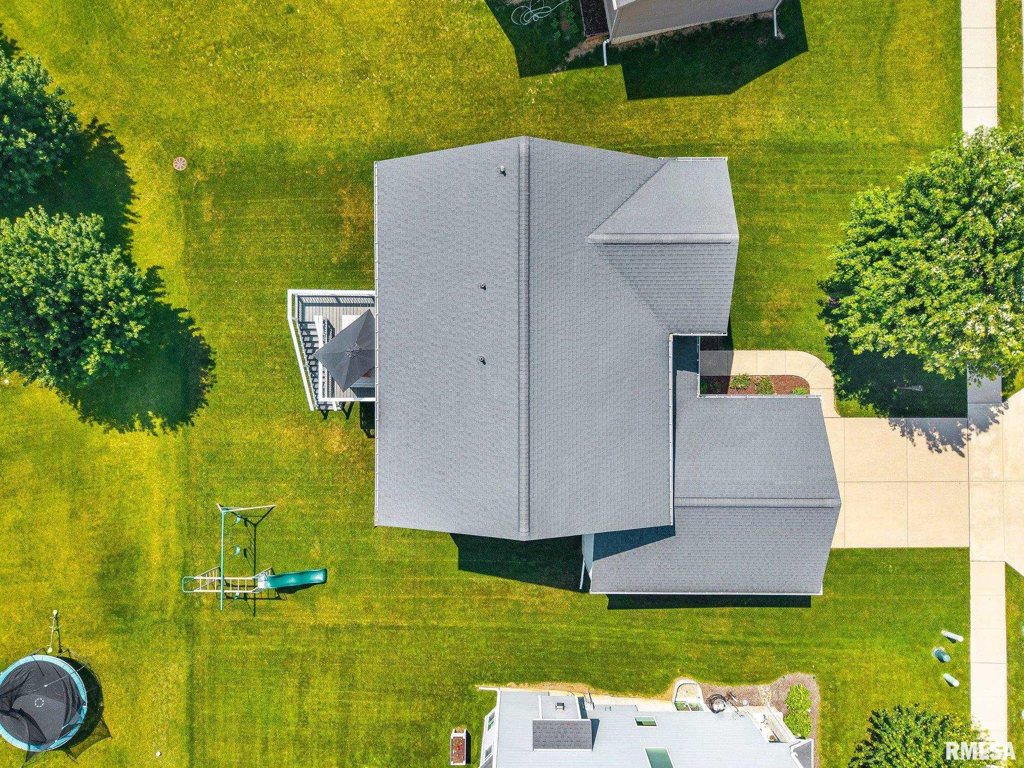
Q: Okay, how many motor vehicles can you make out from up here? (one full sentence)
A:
Not a single motor vehicle can be seen.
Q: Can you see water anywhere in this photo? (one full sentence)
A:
No, the picture contains no water.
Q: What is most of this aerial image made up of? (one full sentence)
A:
The bulk of the photo consists of grass.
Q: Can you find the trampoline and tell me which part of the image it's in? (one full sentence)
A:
The trampoline appears toward the bottom left of the photo.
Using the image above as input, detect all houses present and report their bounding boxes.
[603,0,785,65]
[478,685,817,768]
[374,136,842,596]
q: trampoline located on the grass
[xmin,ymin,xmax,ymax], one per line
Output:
[0,648,99,762]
